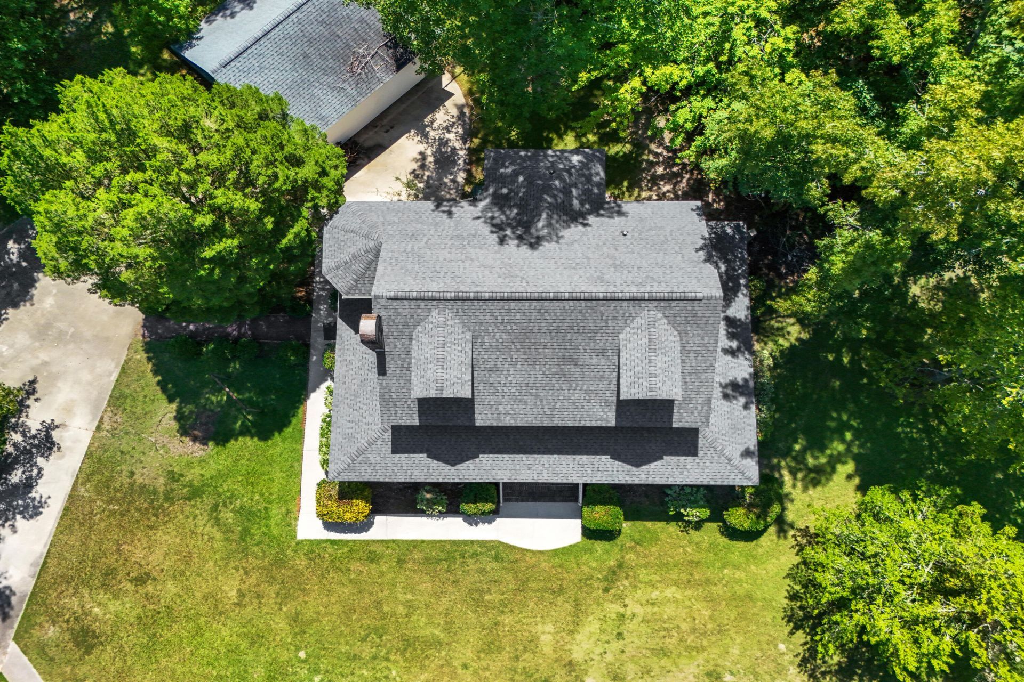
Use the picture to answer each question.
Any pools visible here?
No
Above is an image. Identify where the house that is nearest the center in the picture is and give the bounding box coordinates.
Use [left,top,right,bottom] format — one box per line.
[320,147,761,488]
